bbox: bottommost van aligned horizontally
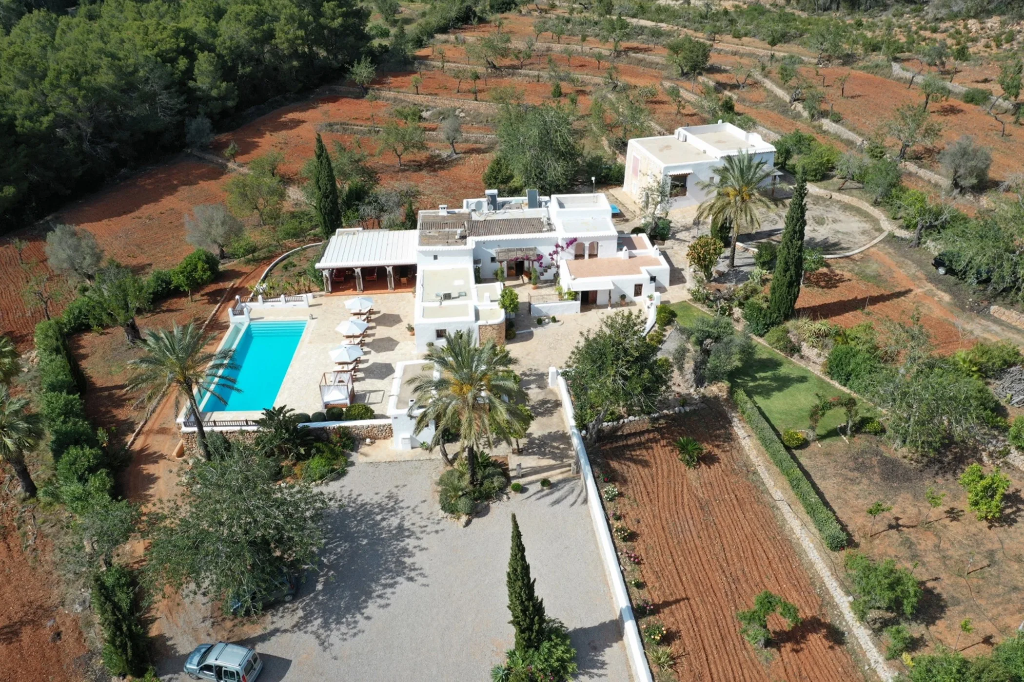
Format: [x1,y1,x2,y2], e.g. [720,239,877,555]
[180,644,261,682]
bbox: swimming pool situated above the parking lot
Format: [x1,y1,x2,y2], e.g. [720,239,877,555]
[182,318,312,416]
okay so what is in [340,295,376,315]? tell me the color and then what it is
white umbrella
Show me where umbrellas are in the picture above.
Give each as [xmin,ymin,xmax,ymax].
[332,315,369,339]
[340,295,376,315]
[324,340,364,369]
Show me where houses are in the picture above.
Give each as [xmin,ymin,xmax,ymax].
[315,179,669,353]
[626,120,784,211]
